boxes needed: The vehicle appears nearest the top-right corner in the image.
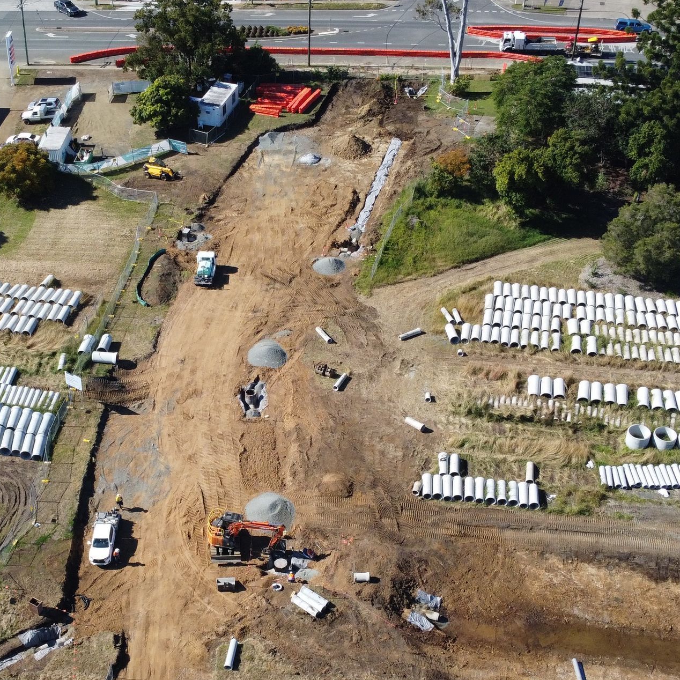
[616,15,653,34]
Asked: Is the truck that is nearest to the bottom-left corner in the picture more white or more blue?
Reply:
white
